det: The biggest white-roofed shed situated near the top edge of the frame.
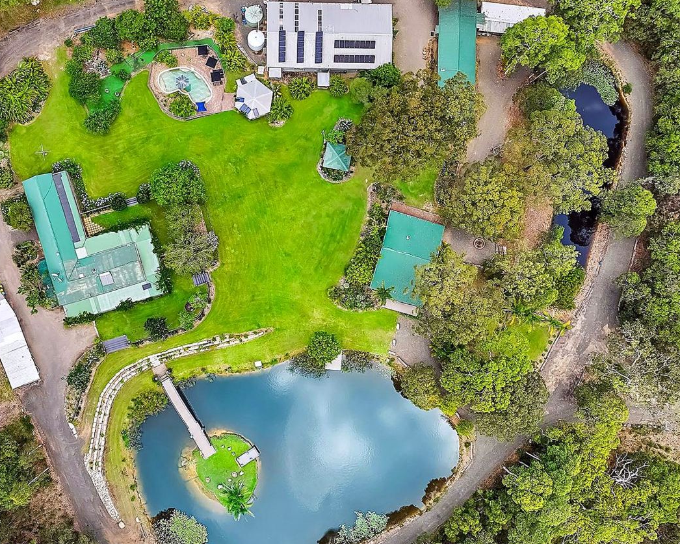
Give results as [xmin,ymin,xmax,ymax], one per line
[263,1,392,89]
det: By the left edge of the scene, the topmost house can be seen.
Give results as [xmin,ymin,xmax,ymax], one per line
[22,171,164,317]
